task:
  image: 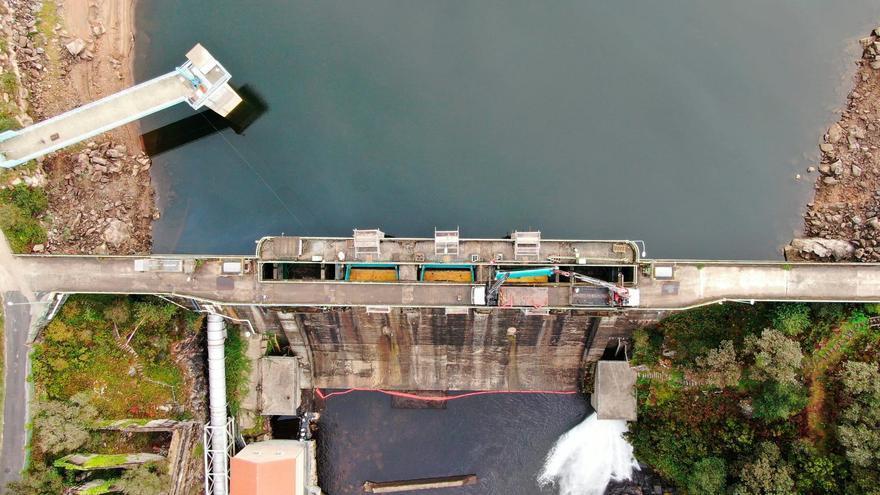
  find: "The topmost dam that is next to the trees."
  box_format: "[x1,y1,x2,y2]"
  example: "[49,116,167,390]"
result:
[34,238,880,410]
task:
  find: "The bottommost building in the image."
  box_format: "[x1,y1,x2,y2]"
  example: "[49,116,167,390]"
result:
[229,439,306,495]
